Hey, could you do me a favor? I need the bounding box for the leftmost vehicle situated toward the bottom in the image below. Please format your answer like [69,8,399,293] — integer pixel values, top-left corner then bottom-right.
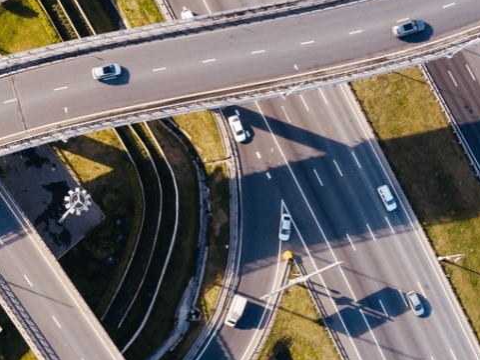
[225,294,252,329]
